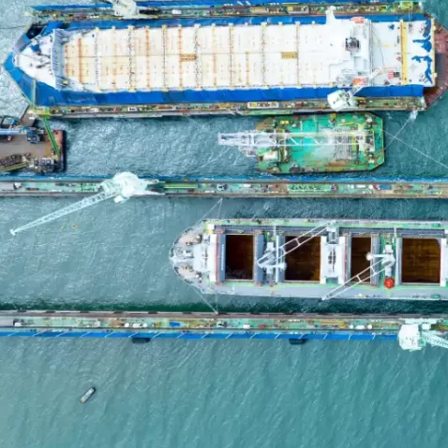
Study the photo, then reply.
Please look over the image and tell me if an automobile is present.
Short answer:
No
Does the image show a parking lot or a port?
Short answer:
port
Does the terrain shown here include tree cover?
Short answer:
No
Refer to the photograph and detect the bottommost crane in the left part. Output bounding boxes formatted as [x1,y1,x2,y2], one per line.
[8,169,180,237]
